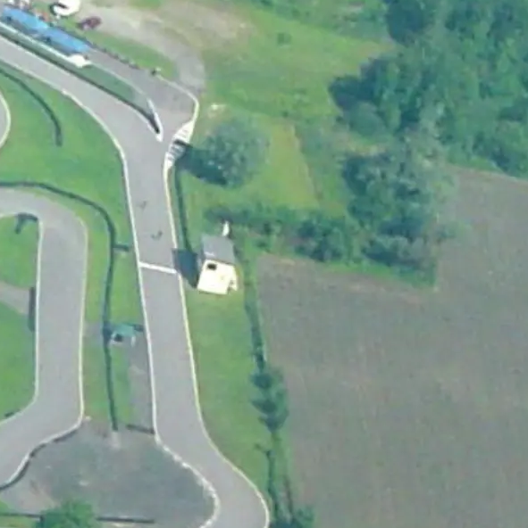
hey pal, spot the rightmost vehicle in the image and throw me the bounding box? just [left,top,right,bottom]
[80,14,104,28]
